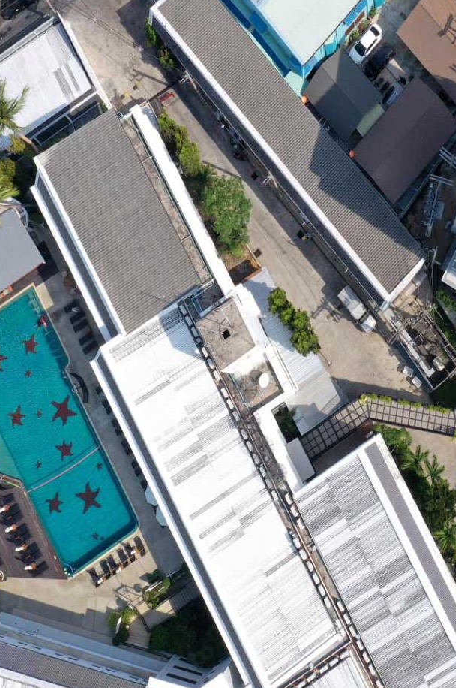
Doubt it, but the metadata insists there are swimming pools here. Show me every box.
[0,281,139,579]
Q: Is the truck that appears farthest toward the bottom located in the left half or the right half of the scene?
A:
right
